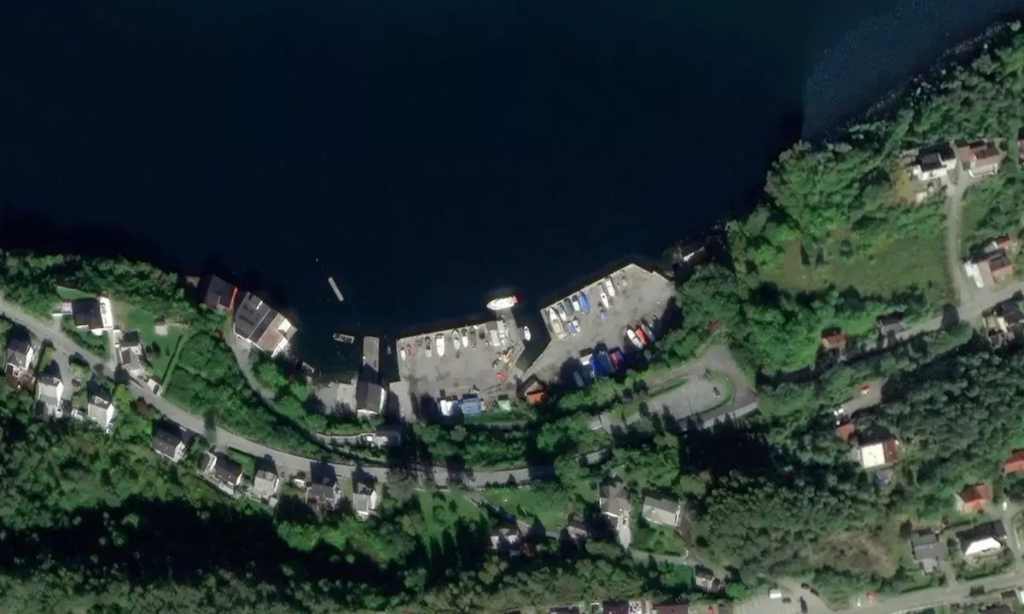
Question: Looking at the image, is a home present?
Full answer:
Yes, a home appears in the view.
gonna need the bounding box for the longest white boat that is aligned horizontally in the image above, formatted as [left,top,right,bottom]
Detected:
[487,296,517,309]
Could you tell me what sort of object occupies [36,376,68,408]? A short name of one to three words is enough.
house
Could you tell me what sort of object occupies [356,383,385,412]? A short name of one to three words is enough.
building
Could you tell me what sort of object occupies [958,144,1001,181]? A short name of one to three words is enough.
house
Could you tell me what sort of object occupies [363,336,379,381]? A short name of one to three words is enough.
pier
